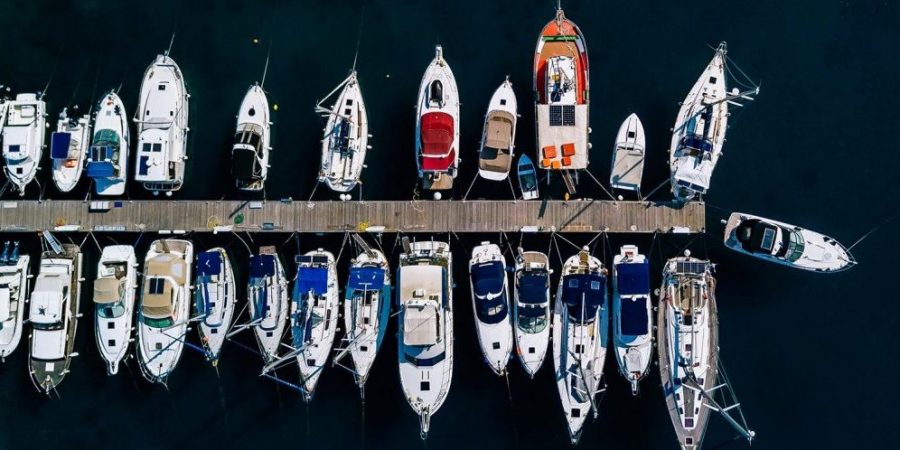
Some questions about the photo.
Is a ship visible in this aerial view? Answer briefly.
Yes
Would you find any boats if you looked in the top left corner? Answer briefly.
Yes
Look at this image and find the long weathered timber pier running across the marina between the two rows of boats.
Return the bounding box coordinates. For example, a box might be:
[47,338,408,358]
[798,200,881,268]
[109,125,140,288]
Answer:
[0,201,706,233]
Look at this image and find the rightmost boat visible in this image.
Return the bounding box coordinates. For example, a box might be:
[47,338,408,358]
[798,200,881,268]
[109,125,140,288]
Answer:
[719,214,861,272]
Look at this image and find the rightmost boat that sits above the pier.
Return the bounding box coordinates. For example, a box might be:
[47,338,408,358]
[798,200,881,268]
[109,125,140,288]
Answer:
[664,42,759,204]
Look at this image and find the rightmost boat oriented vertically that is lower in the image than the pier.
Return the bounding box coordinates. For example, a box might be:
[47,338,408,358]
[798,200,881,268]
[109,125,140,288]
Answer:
[653,250,755,450]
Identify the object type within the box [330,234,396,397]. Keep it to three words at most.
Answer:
boat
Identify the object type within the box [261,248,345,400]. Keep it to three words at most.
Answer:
boat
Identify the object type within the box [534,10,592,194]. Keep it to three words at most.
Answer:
ship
